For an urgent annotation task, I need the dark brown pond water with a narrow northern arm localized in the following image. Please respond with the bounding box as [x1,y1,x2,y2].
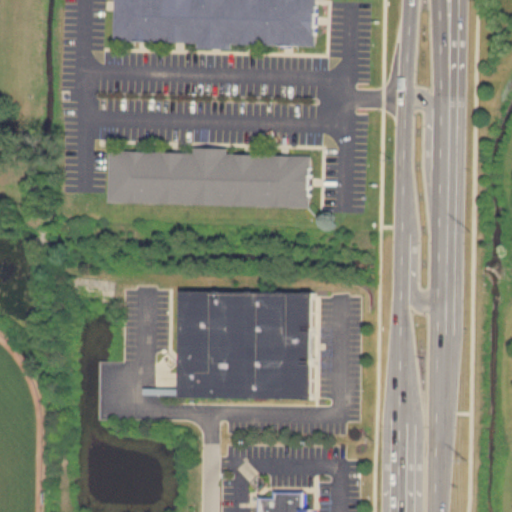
[81,310,176,512]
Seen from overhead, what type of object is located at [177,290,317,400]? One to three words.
building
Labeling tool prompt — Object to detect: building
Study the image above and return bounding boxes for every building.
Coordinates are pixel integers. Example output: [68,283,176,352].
[114,0,322,50]
[258,490,308,512]
[105,148,314,208]
[177,290,317,400]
